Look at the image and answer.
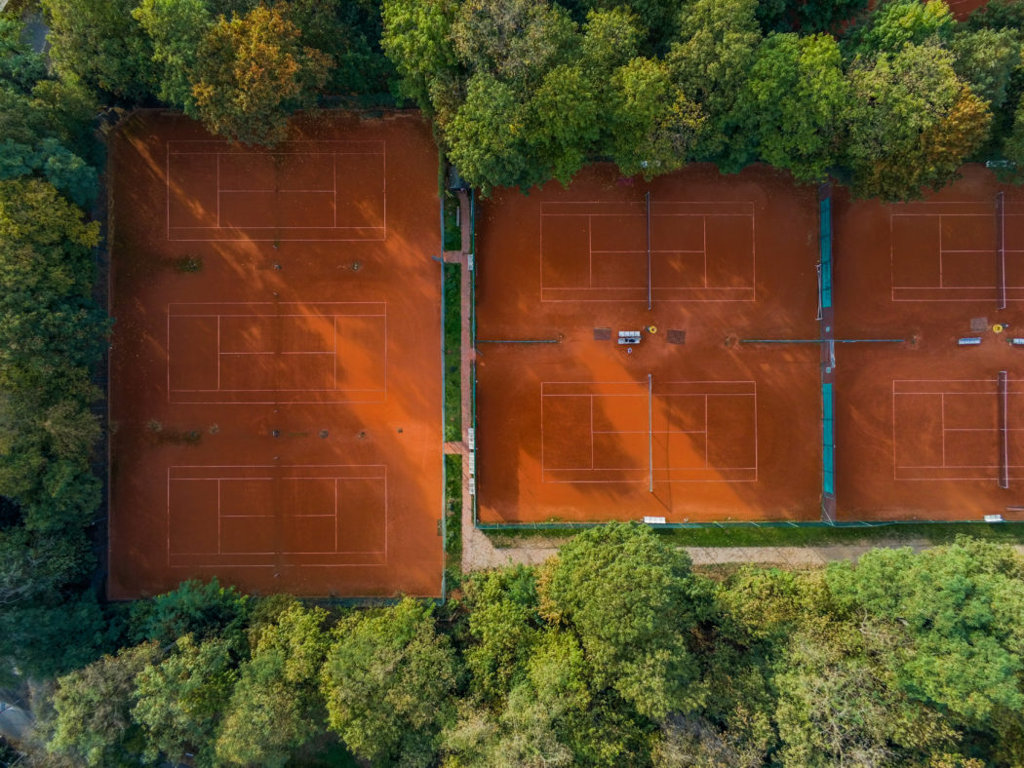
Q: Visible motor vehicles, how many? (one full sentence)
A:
Not a single motor vehicle can be seen.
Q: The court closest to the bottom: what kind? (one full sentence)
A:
The court closest to the bottom appears to be a tennis court.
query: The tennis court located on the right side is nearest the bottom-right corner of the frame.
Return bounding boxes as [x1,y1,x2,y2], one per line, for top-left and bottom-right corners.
[836,341,1024,521]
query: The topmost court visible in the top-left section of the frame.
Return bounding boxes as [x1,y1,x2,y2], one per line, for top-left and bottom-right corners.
[108,109,445,272]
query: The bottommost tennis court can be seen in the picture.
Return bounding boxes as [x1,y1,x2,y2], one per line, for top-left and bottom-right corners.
[108,434,446,599]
